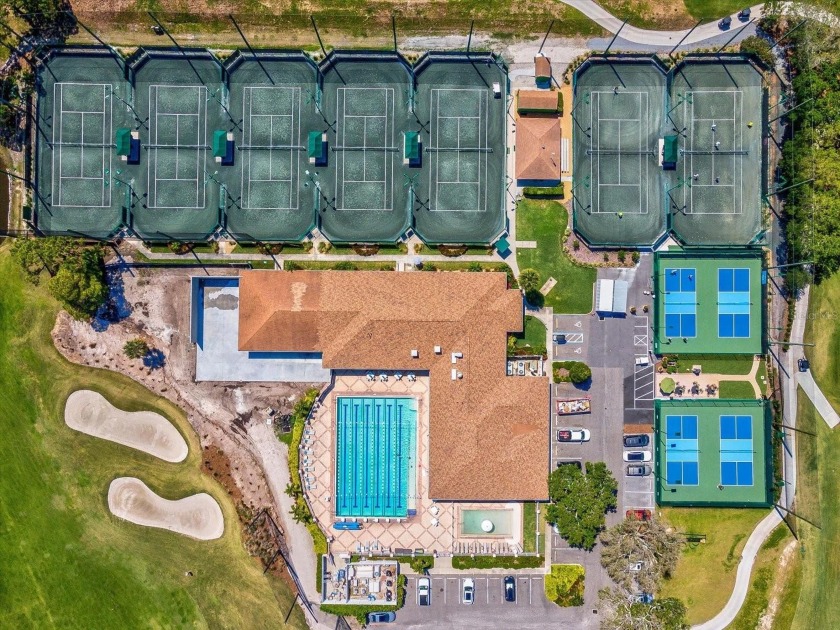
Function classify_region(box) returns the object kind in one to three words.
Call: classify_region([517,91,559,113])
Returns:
building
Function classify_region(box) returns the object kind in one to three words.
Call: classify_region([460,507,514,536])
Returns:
swimming pool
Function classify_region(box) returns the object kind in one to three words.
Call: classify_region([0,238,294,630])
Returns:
golf course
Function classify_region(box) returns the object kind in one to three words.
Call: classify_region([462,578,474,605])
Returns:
vehicle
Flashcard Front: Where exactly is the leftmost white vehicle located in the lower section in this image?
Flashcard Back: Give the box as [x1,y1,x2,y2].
[418,576,431,606]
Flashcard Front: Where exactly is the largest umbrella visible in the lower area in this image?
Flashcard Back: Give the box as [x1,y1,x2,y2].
[658,376,675,393]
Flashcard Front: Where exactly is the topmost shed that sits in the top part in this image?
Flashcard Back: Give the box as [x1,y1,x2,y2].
[533,54,551,81]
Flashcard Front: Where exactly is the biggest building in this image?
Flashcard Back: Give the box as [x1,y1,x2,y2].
[238,271,548,500]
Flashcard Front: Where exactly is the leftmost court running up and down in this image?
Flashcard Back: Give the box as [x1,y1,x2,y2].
[43,52,134,238]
